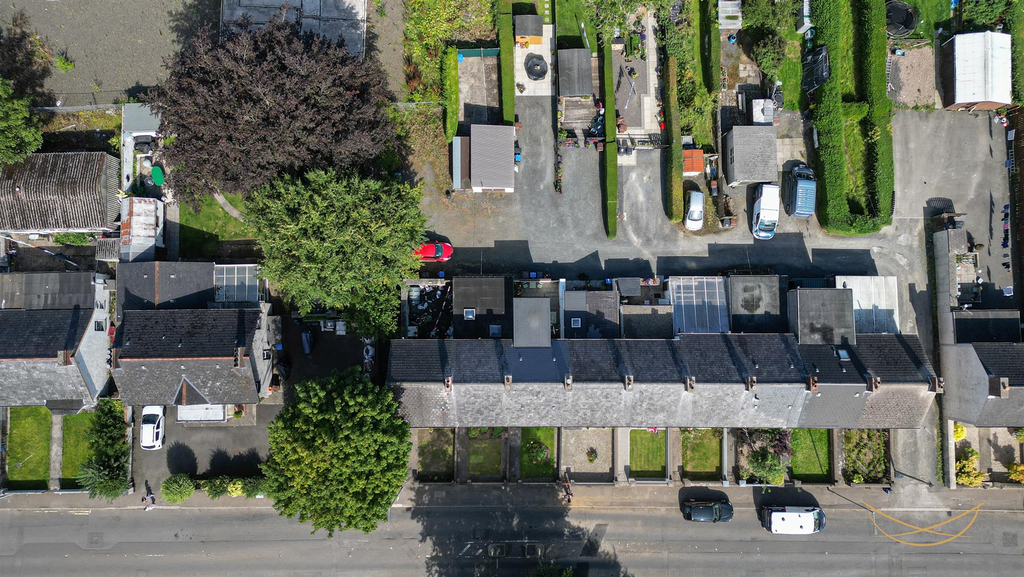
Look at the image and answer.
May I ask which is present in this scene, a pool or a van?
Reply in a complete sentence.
There is a van in the scene.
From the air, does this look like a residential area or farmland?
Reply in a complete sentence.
The area seen from above is a residential area.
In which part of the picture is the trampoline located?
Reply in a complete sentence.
You can find the trampoline in the top right area of the picture.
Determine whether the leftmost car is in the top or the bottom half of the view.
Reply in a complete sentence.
You can find the leftmost car in the bottom half.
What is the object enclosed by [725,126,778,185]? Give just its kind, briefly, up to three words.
shed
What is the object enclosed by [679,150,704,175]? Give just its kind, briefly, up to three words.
shed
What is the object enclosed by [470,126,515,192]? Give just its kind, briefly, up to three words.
building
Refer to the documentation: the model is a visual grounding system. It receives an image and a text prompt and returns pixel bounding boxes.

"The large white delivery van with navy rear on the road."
[759,503,820,533]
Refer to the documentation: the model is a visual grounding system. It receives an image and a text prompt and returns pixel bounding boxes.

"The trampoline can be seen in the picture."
[884,0,924,39]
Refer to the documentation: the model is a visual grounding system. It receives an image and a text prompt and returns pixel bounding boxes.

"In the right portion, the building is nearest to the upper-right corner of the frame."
[940,28,1010,110]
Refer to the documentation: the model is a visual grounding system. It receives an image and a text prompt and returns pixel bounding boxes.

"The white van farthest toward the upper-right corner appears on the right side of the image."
[751,182,780,238]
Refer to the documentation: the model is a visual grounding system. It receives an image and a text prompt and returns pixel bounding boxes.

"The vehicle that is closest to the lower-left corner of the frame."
[138,406,169,453]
